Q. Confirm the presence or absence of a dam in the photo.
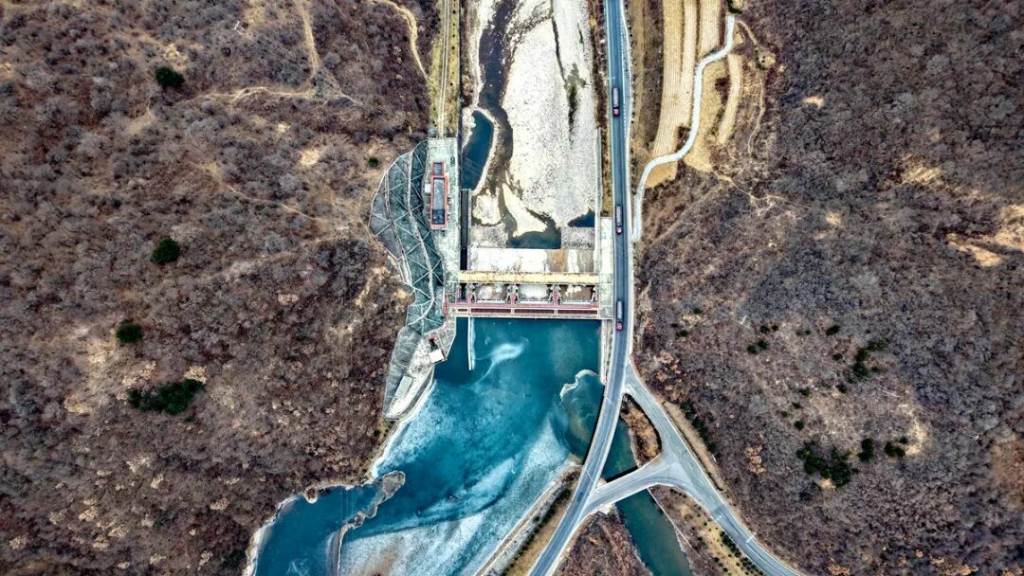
Yes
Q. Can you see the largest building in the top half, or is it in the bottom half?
top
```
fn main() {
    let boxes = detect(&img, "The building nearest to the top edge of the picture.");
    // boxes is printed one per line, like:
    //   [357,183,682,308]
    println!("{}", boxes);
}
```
[425,163,447,227]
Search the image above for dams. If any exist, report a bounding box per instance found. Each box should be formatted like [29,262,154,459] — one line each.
[445,190,613,370]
